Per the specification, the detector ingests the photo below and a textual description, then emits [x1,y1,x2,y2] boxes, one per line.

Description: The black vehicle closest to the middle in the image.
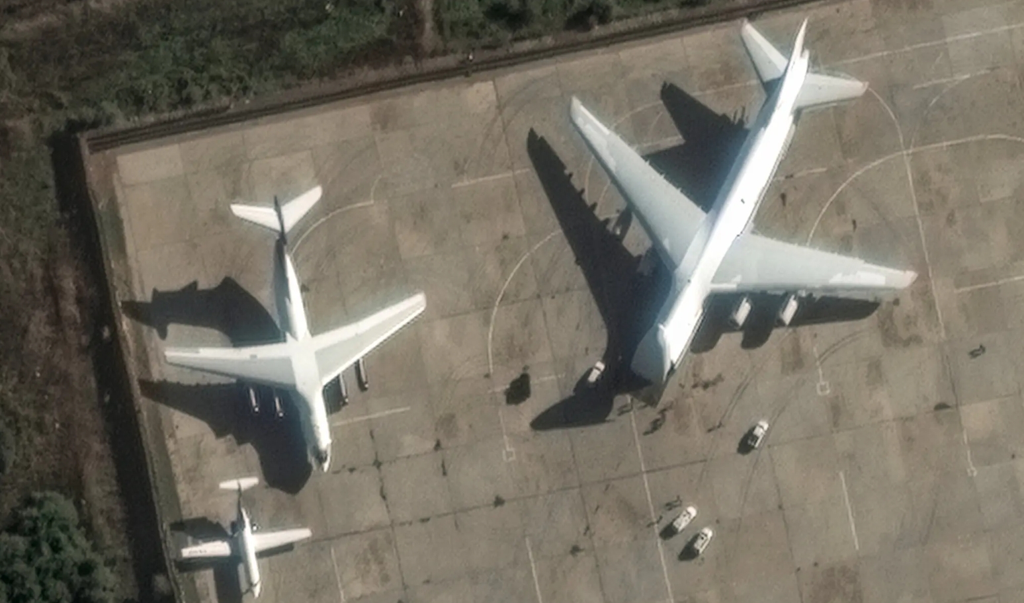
[516,372,530,402]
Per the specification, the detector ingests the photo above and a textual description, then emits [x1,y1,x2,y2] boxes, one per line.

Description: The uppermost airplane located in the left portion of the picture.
[164,184,425,470]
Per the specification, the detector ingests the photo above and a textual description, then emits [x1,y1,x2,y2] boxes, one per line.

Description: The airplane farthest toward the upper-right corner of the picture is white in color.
[568,16,917,407]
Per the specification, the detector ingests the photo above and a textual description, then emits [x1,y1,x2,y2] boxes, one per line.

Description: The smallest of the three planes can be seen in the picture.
[184,478,313,597]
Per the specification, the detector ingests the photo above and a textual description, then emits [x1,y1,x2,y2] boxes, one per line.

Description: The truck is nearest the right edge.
[749,419,770,450]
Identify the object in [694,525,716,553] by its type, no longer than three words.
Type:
car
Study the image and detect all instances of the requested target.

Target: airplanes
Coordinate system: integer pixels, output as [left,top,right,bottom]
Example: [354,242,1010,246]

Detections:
[184,478,313,597]
[568,16,917,407]
[164,184,425,470]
